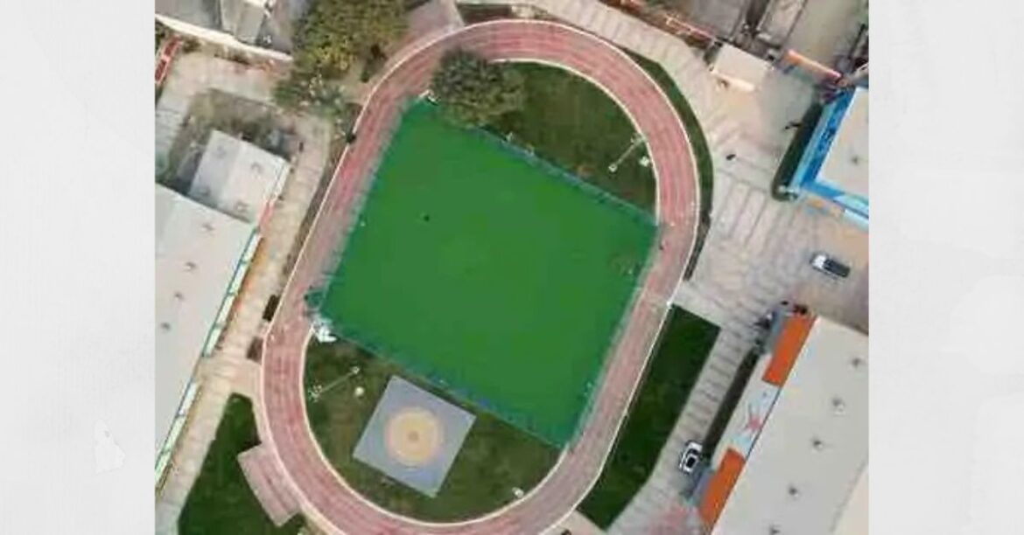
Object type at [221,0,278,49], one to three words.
house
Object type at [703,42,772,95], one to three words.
building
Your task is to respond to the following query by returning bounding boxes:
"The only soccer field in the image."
[325,98,654,440]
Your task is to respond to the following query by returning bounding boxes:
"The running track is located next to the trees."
[261,20,700,535]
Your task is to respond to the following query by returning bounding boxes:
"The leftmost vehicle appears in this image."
[679,441,704,476]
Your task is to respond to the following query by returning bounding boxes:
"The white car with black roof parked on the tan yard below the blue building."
[813,254,854,278]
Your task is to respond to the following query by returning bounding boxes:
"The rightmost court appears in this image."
[353,376,476,498]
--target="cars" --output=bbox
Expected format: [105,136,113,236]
[679,441,704,476]
[813,254,854,278]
